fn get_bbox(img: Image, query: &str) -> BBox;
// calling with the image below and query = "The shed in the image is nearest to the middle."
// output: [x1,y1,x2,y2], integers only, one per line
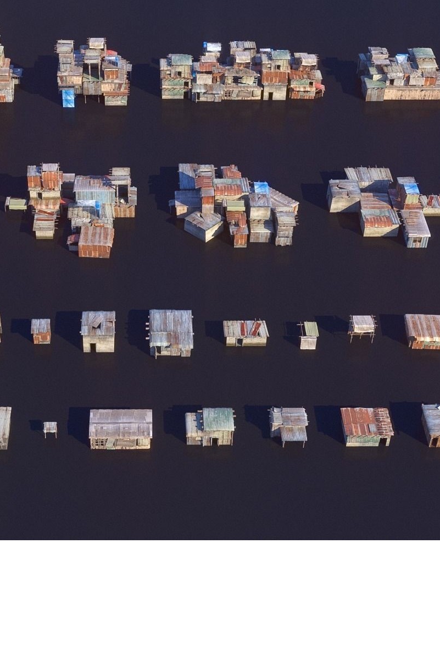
[225,318,269,346]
